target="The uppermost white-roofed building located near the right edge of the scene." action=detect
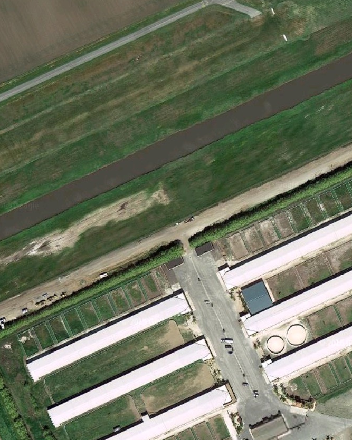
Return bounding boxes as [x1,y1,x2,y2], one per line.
[218,211,352,289]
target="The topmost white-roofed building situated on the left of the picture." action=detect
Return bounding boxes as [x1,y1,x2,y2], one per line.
[27,293,190,381]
